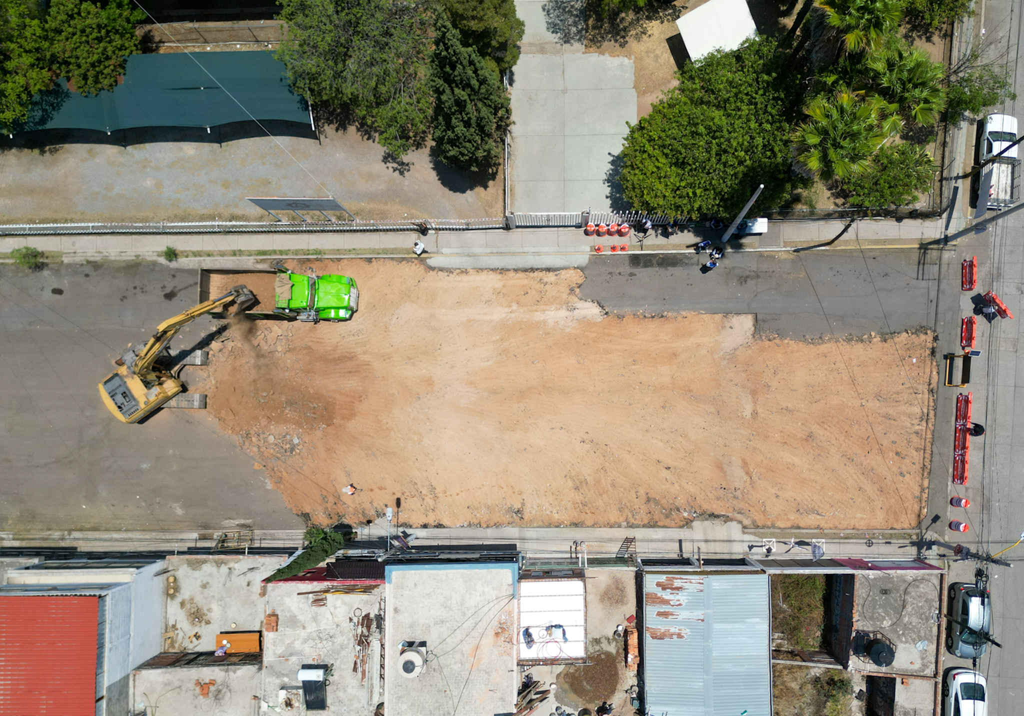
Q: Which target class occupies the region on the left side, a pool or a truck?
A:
truck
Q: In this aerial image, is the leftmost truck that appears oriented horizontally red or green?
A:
green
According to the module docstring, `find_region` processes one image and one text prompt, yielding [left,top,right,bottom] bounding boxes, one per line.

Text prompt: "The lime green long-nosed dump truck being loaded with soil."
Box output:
[198,267,362,324]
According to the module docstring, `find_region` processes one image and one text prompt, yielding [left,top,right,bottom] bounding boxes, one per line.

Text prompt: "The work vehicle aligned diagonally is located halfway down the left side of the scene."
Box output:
[100,286,250,422]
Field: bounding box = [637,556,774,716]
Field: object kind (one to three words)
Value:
house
